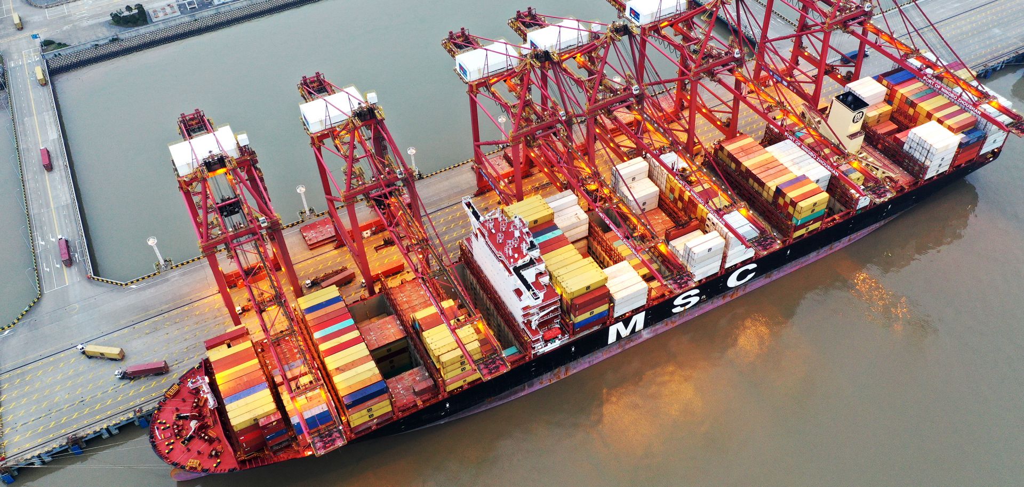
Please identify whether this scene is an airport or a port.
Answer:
port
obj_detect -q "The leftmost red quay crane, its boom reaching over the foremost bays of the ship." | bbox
[166,110,354,463]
